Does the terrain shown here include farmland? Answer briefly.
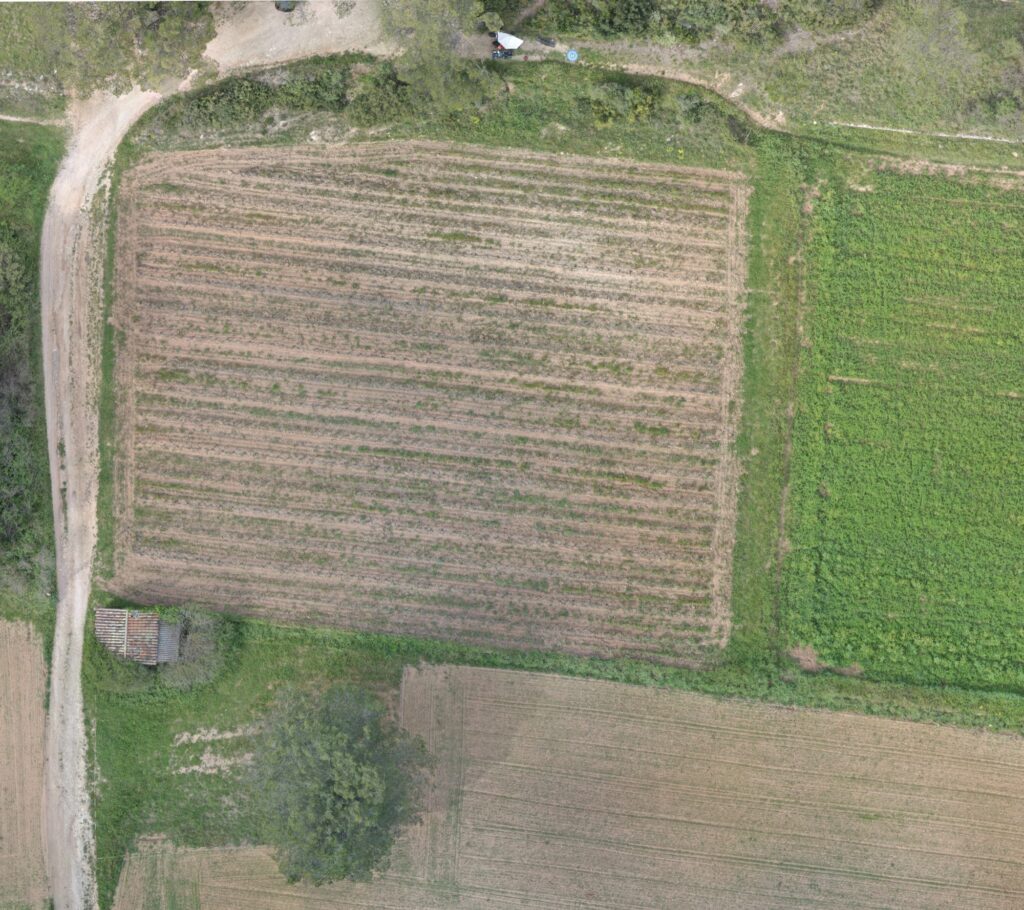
Yes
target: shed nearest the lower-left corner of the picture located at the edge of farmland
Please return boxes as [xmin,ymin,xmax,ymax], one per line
[94,606,184,666]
